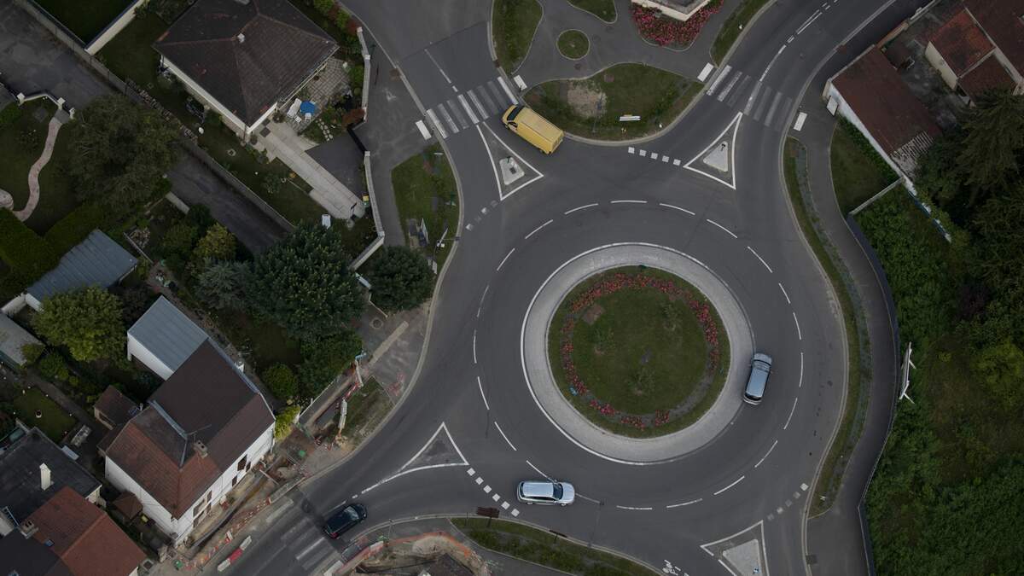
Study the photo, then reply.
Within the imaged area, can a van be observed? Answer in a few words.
Yes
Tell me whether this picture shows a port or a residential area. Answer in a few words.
residential area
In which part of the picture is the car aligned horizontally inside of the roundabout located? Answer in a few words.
bottom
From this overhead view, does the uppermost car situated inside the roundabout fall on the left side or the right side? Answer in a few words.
right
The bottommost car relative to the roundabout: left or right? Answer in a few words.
to its left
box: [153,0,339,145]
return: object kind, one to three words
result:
house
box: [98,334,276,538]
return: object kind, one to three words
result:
house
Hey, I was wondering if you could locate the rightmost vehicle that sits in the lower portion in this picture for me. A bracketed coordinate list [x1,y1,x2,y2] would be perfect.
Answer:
[742,354,773,408]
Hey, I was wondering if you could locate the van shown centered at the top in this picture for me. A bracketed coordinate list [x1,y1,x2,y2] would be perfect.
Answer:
[499,107,562,158]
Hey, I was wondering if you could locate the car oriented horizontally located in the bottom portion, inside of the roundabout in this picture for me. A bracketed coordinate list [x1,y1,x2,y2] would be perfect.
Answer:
[516,480,575,508]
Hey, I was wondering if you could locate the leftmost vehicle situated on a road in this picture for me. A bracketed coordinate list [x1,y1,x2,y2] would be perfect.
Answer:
[319,503,370,542]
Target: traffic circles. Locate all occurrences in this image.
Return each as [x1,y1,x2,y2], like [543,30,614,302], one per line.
[432,163,843,551]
